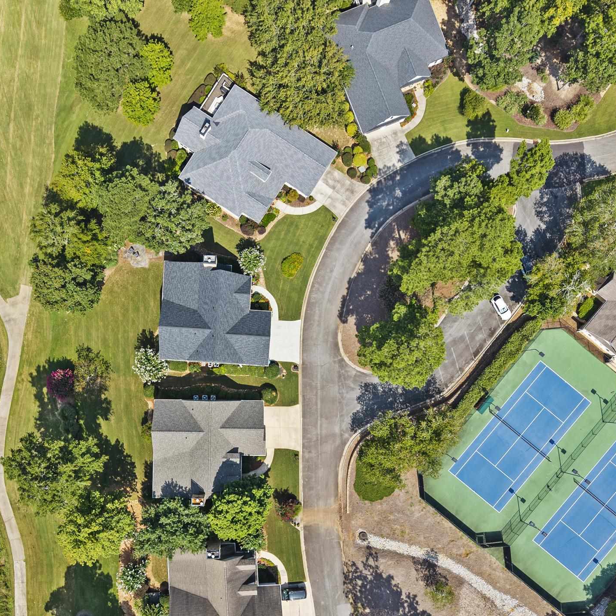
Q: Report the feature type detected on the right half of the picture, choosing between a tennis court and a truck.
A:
tennis court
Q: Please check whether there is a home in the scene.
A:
Yes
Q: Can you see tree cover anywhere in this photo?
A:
Yes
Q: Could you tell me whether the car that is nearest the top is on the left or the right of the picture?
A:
right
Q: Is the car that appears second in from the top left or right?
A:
right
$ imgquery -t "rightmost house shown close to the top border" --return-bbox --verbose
[331,0,451,137]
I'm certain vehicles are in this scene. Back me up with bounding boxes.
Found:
[517,249,538,276]
[282,588,309,603]
[488,293,510,321]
